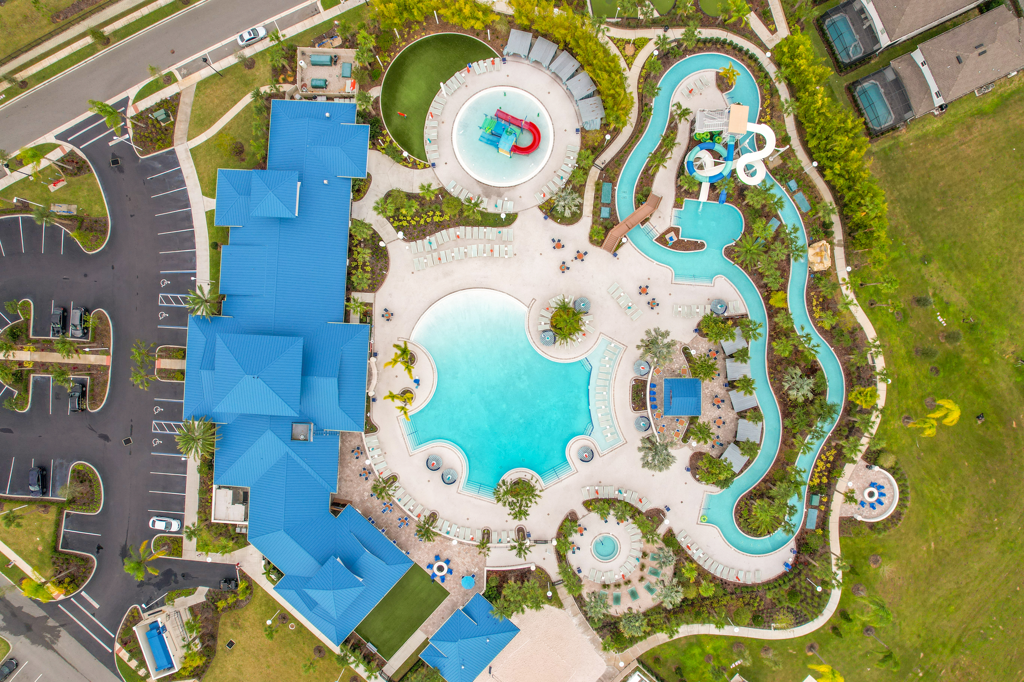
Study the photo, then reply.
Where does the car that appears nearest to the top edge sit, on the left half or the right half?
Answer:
left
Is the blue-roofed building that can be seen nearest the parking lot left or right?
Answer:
left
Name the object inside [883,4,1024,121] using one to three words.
house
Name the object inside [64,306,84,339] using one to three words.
car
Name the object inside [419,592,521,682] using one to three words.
building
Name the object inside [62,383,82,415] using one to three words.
car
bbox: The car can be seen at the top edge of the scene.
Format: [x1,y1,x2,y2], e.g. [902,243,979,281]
[233,23,267,48]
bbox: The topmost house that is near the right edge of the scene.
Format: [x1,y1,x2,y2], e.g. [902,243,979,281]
[850,0,987,57]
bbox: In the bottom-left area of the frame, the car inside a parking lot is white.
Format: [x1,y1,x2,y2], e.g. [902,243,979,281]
[145,517,180,535]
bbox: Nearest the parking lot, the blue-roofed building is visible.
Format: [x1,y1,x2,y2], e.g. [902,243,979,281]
[182,98,415,648]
